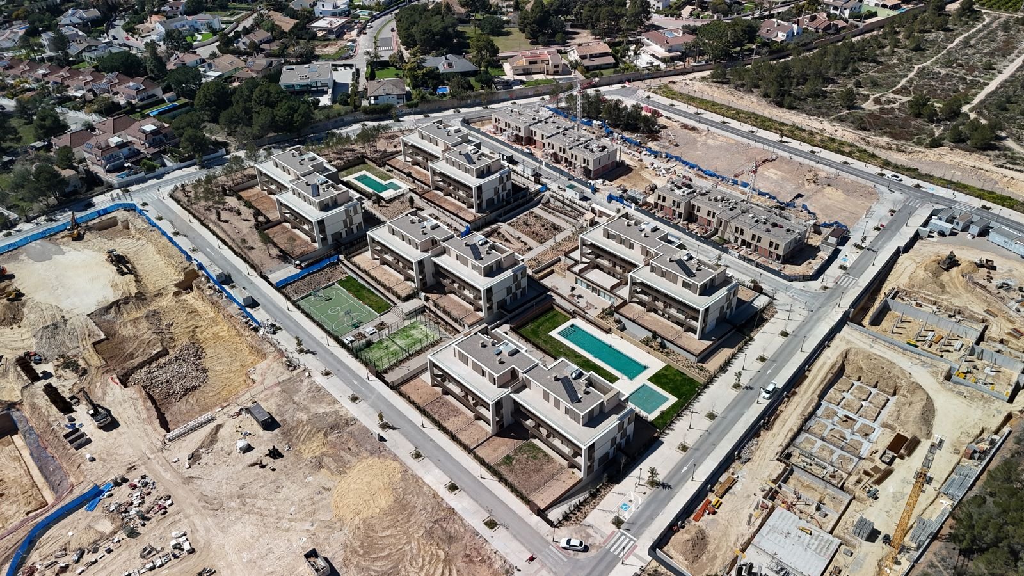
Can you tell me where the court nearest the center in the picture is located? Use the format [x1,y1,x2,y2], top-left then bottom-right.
[356,307,441,369]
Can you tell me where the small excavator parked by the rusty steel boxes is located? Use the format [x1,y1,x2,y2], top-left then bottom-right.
[865,478,886,500]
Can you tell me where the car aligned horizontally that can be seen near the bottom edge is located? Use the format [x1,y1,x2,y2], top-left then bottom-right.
[560,538,584,551]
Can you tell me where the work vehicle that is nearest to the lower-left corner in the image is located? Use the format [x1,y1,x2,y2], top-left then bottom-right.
[81,388,112,426]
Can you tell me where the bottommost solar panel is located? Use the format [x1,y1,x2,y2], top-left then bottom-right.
[558,377,582,400]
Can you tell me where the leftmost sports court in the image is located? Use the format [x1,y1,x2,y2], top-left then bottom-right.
[299,283,380,336]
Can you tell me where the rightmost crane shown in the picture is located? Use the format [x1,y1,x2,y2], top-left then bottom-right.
[873,431,946,576]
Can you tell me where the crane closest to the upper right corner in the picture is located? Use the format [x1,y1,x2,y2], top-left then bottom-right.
[680,149,773,202]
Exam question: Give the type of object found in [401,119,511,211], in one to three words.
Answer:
building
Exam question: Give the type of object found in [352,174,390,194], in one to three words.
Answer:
swimming pool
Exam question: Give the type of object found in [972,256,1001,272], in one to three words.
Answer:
work vehicle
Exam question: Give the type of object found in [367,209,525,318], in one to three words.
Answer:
building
